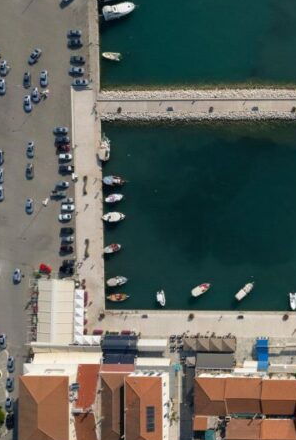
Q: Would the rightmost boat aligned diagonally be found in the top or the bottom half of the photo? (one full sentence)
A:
The bottom half of the photo is where the rightmost boat aligned diagonally is.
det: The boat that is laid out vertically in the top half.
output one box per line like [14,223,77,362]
[98,134,111,163]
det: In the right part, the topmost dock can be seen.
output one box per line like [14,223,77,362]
[95,84,296,125]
